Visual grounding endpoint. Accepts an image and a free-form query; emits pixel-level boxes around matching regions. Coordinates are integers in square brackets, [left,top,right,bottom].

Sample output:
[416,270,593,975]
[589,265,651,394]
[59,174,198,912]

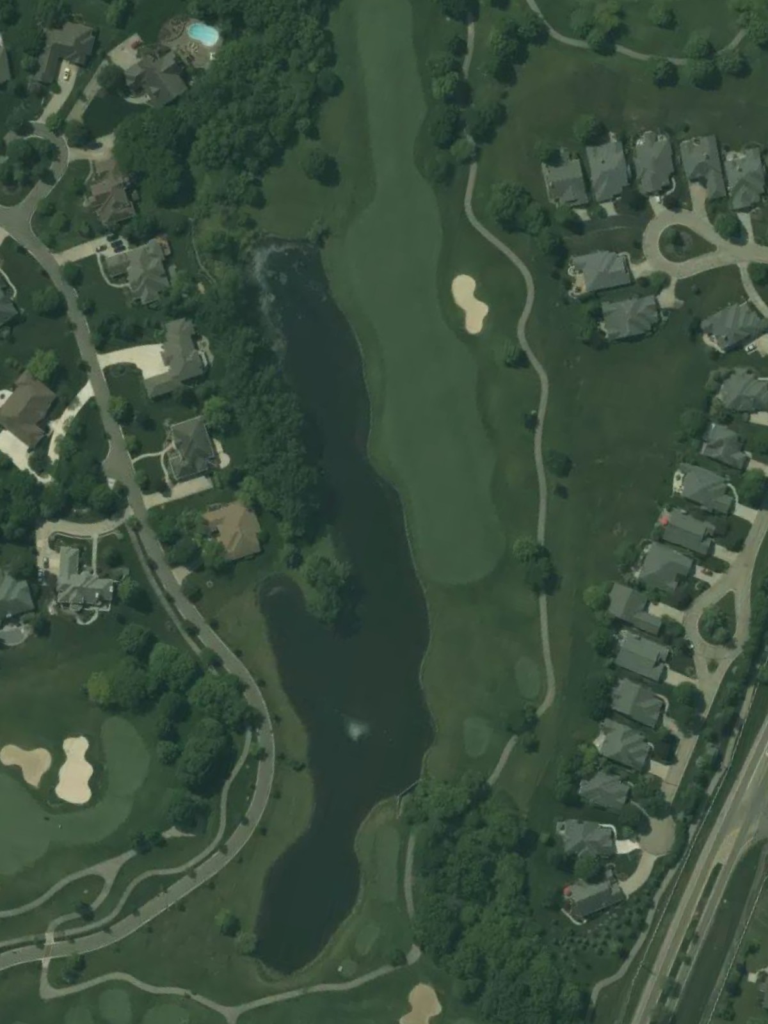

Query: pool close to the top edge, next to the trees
[186,22,221,47]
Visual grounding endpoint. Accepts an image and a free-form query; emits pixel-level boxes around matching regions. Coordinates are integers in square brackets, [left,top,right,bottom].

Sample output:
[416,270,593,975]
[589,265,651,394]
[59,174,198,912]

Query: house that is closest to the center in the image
[202,501,266,563]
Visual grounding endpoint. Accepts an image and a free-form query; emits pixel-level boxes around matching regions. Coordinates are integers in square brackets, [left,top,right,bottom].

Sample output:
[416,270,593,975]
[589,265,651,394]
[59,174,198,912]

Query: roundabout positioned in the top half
[642,209,768,280]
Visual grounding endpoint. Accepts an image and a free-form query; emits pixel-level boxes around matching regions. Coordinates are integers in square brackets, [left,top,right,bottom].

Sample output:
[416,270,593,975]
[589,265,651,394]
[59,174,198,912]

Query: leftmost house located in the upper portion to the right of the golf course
[546,161,589,208]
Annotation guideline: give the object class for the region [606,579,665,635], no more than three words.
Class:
house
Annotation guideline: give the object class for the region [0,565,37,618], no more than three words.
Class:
house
